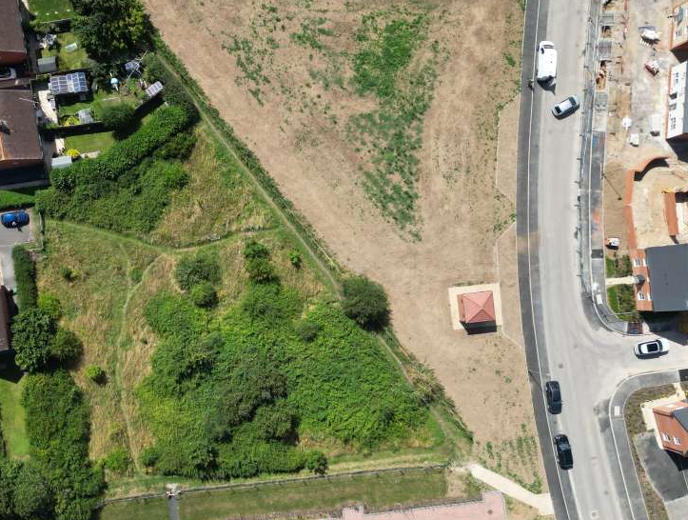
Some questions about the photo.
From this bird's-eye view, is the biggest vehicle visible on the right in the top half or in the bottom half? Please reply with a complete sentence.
The biggest vehicle visible on the right sits in the top half of the picture.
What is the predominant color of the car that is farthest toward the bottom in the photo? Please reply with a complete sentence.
In this view, the car that is farthest toward the bottom is black.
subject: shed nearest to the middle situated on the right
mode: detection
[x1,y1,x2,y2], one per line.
[459,290,498,324]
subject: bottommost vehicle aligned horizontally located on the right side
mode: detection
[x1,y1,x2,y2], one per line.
[632,338,668,357]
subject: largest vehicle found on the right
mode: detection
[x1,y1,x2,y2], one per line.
[534,42,556,87]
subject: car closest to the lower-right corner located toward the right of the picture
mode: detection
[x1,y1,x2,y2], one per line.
[552,433,573,469]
